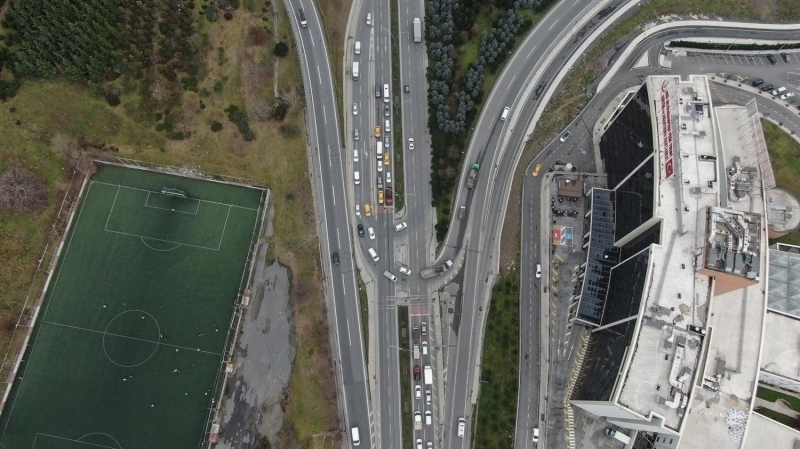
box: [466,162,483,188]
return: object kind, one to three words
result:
vehicle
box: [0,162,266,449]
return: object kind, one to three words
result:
soccer field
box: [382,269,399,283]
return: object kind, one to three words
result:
vehicle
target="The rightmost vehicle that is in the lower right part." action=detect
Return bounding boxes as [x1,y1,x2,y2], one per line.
[603,427,633,445]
